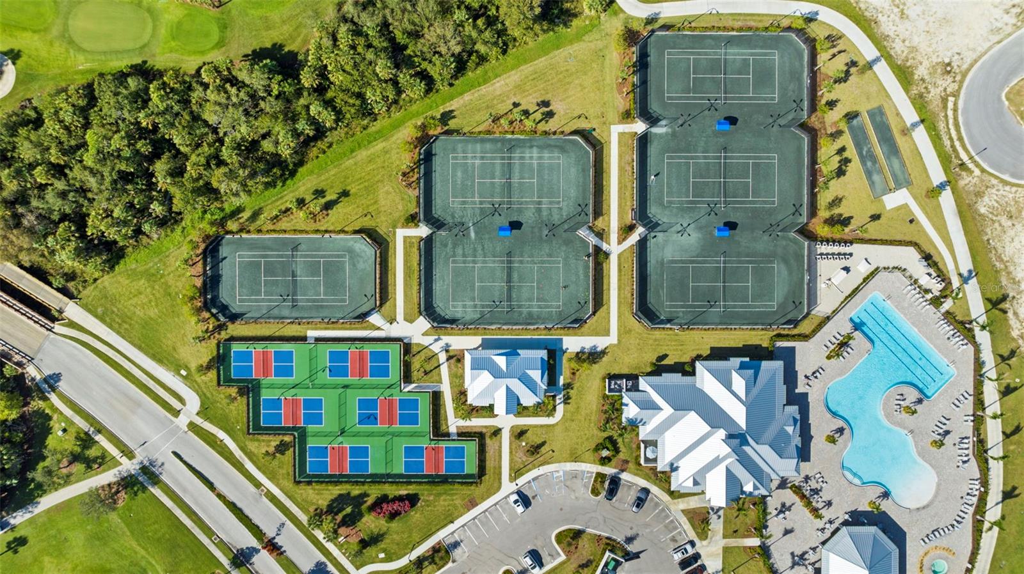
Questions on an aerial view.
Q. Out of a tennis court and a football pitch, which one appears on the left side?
tennis court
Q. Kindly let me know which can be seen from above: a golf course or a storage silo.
golf course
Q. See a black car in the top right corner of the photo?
No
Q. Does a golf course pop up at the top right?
No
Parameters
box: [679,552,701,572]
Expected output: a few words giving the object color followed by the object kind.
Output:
black car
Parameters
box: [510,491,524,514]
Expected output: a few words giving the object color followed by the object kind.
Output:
white car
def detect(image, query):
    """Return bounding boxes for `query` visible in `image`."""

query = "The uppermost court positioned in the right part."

[639,34,806,127]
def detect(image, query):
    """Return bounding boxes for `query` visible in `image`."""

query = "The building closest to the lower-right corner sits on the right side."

[819,525,898,574]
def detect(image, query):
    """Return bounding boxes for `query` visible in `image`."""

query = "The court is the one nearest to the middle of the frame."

[421,231,591,326]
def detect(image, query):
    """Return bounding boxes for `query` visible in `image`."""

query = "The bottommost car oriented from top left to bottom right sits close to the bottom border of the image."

[522,551,541,573]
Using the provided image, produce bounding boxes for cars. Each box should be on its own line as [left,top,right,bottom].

[605,477,620,501]
[522,551,541,573]
[686,563,708,574]
[679,552,701,572]
[632,489,648,511]
[671,541,693,561]
[510,491,524,514]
